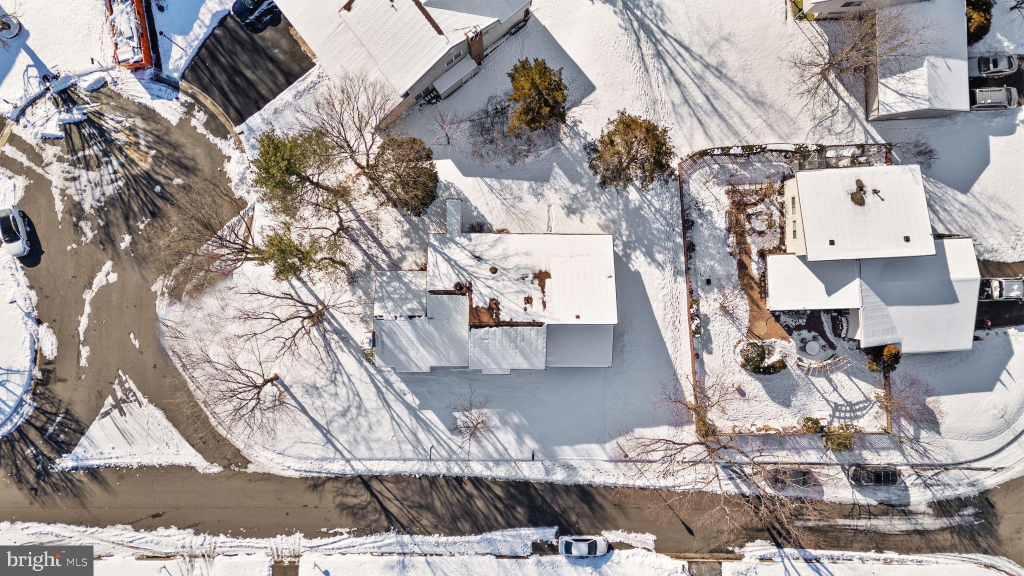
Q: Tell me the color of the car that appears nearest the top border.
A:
black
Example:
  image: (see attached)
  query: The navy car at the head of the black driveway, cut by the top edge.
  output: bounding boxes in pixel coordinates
[231,0,276,28]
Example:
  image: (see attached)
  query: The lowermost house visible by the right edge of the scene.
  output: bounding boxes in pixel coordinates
[757,164,981,354]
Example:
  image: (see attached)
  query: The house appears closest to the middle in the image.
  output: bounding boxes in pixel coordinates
[364,199,618,375]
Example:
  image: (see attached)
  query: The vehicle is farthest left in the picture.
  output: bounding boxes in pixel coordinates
[0,205,29,256]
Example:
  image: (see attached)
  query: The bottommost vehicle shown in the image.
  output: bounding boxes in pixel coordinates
[559,534,608,557]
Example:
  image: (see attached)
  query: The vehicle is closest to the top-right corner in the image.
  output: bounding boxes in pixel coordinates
[969,54,1018,77]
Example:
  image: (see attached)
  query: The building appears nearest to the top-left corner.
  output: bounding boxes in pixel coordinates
[276,0,532,132]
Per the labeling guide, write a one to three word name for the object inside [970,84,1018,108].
car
